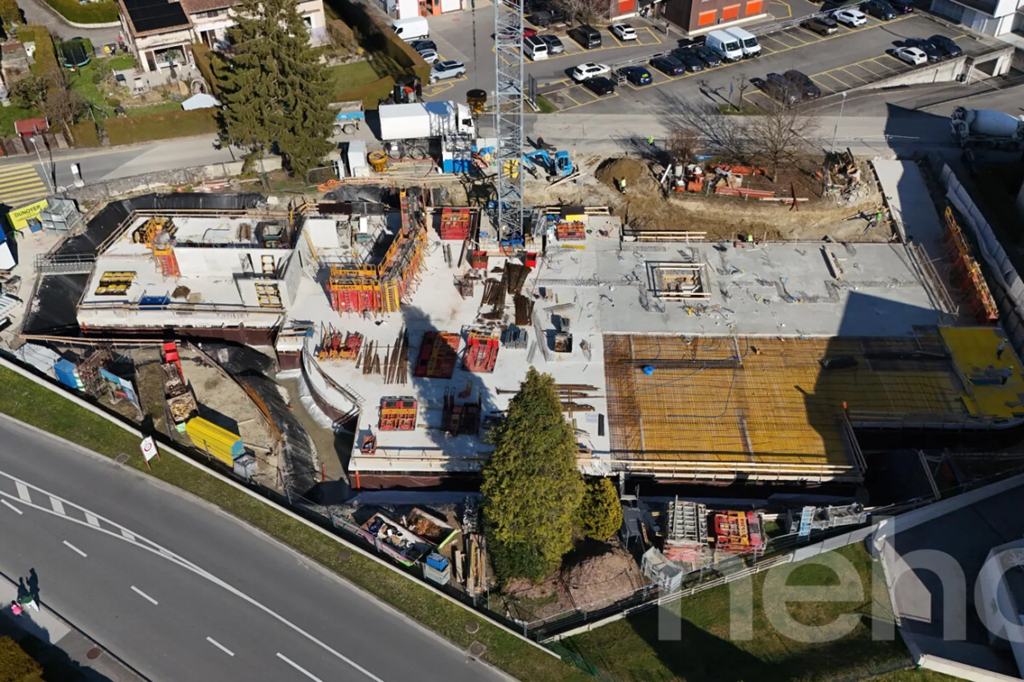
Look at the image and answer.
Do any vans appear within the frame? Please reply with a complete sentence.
Yes, a van appears in the view.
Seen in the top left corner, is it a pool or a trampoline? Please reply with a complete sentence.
The one visible in the top left corner is a trampoline.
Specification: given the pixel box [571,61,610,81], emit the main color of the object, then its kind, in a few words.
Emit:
white car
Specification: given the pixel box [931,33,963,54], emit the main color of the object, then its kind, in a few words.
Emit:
black car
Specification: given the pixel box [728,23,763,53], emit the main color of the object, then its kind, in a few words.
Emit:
white van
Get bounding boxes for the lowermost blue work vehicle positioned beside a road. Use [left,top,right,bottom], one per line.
[523,146,579,177]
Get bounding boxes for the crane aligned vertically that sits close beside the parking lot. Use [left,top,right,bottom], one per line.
[485,0,536,260]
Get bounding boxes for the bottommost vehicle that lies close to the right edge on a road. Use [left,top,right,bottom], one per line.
[938,108,1024,151]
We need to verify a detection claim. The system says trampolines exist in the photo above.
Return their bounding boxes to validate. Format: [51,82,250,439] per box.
[54,36,91,64]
